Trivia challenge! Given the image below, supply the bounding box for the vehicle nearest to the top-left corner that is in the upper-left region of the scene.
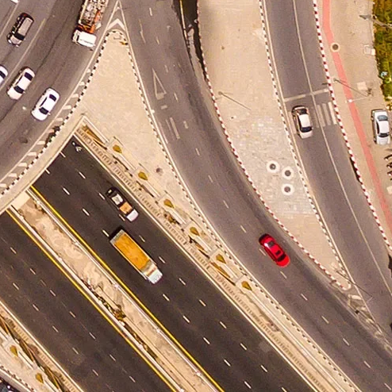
[8,12,31,45]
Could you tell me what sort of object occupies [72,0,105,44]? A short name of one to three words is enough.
truck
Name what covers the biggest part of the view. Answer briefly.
paved ground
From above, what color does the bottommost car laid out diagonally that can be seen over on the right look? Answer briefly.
red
